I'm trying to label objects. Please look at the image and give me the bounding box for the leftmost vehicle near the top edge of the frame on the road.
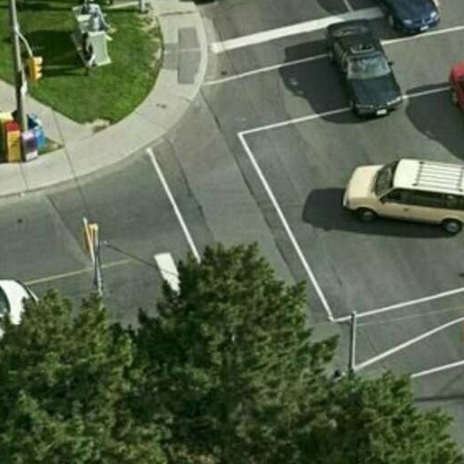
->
[323,11,404,111]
